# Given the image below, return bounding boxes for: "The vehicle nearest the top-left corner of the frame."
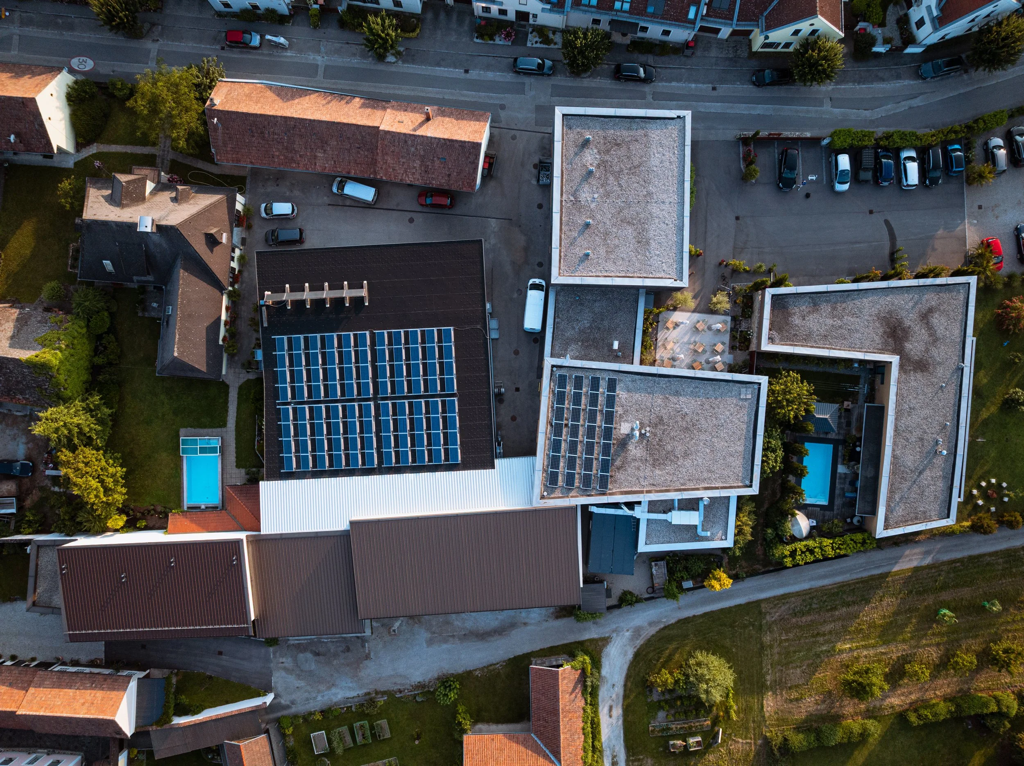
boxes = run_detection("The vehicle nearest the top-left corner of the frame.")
[224,28,265,51]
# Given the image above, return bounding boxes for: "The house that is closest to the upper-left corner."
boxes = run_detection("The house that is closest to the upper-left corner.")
[0,62,82,164]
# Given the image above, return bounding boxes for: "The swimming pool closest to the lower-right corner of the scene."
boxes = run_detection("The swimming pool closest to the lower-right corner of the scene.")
[794,435,845,512]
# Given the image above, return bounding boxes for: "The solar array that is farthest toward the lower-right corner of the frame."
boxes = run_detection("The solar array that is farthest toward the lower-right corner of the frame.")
[544,373,620,492]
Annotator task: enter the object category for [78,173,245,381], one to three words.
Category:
house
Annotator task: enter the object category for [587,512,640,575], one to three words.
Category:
shed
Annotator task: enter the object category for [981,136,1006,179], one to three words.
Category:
car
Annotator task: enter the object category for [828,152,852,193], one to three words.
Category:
car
